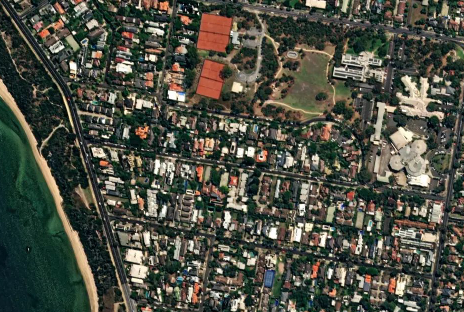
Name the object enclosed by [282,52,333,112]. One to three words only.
sports field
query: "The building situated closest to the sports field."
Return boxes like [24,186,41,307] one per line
[332,66,366,80]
